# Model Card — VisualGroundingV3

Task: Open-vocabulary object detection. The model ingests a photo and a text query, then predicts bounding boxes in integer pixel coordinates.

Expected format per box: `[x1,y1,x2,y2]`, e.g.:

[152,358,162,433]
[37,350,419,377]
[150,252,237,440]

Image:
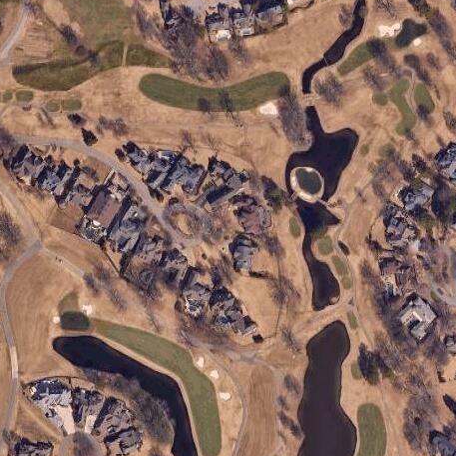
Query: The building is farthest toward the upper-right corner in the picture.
[433,142,456,178]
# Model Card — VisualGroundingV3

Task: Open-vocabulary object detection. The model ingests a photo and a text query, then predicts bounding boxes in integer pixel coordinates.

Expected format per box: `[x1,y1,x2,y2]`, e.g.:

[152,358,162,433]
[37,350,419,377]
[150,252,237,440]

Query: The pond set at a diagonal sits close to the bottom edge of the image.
[53,336,198,456]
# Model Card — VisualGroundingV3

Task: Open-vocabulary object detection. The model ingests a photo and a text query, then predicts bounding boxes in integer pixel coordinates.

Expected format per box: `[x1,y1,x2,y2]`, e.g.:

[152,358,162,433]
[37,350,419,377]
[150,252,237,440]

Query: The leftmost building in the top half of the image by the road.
[6,146,42,187]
